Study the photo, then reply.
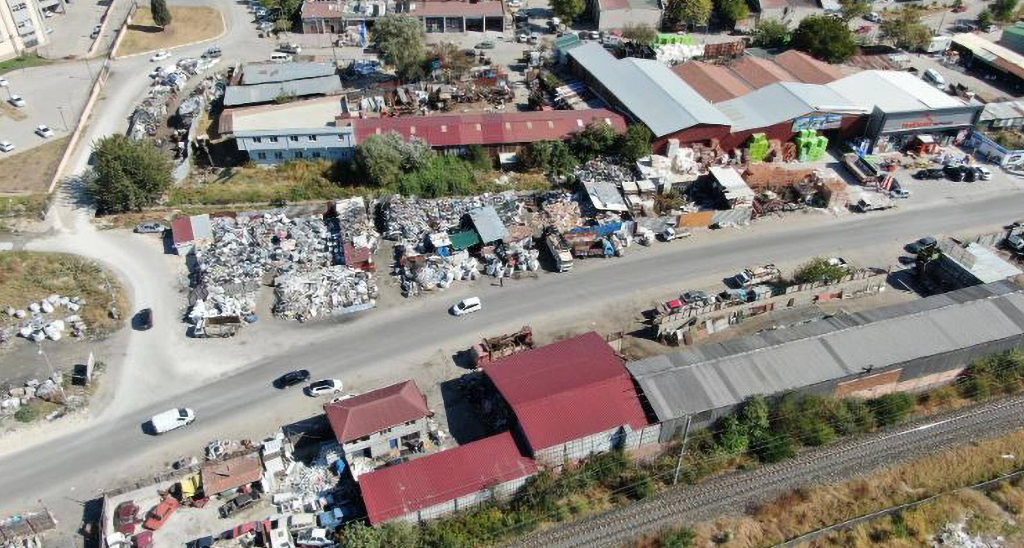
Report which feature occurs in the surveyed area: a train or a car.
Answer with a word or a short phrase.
car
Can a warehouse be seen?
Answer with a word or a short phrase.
Yes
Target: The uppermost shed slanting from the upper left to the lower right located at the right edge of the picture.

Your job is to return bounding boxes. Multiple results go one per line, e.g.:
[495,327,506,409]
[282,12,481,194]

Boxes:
[947,32,1024,106]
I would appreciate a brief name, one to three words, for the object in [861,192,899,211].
vehicle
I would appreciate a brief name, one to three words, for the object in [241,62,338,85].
shed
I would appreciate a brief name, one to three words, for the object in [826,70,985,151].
building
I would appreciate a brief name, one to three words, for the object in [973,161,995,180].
car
